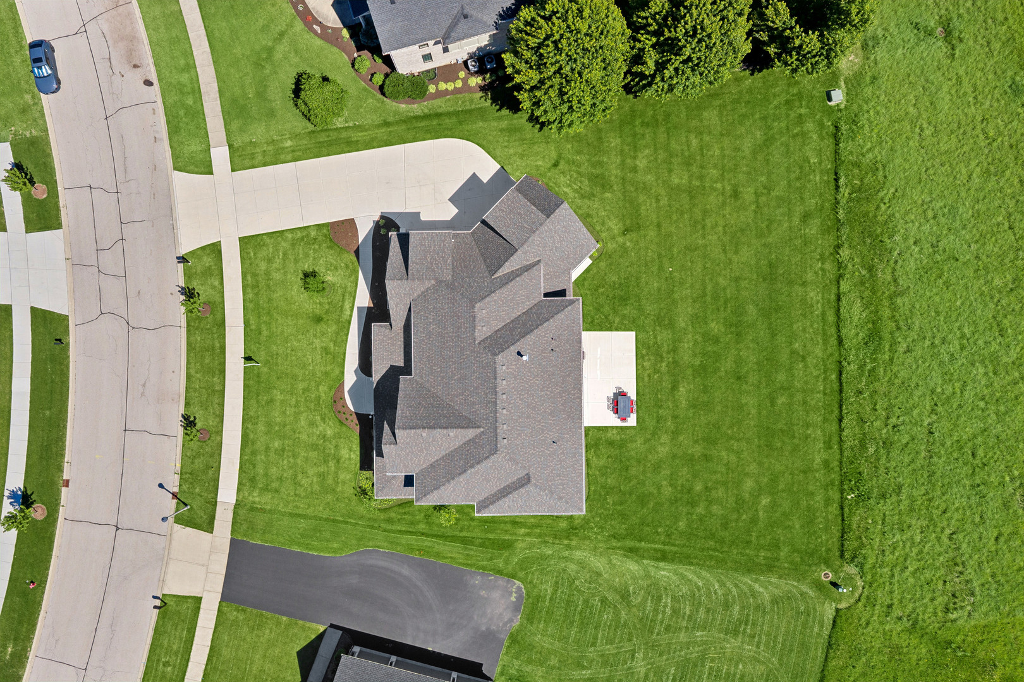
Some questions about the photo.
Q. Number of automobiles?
1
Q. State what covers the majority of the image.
grass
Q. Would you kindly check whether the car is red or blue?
blue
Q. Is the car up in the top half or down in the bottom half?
top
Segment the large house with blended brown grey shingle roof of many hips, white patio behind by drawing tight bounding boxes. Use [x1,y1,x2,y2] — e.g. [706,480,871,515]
[372,173,599,517]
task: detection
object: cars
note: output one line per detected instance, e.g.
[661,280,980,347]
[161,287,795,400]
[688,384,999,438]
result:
[28,38,62,95]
